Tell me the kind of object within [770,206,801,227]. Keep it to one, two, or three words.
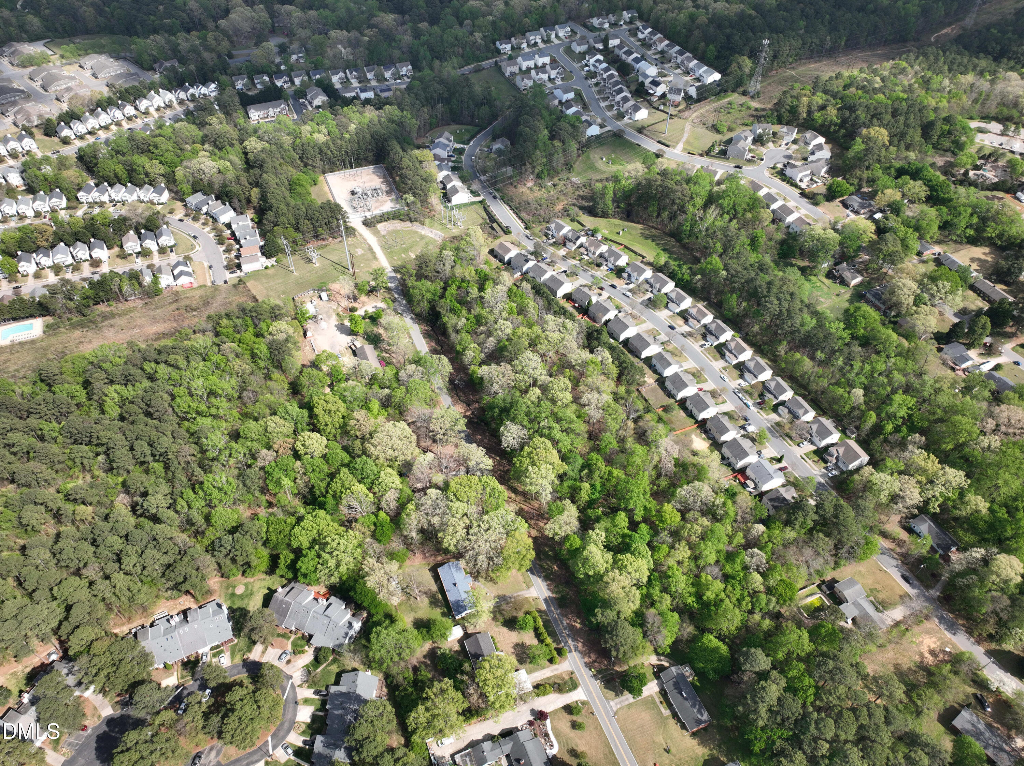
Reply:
house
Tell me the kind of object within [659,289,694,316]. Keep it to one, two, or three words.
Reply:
house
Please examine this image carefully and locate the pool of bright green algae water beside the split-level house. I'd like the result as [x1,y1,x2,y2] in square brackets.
[798,594,832,617]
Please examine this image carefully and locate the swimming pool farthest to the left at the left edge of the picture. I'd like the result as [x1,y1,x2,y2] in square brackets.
[0,318,43,345]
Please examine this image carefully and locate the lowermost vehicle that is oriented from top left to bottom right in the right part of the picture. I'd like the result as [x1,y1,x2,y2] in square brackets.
[973,693,994,713]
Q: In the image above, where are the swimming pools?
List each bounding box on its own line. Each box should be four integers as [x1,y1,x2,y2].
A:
[798,594,832,617]
[0,318,43,345]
